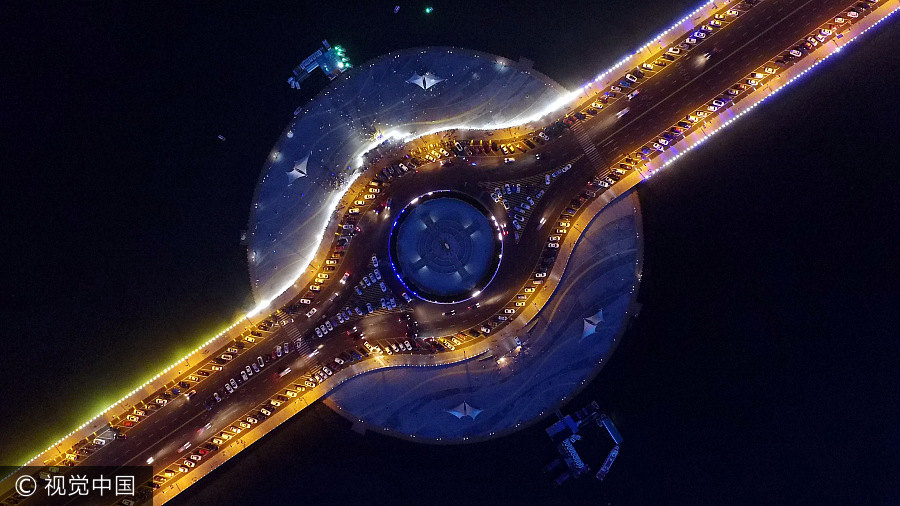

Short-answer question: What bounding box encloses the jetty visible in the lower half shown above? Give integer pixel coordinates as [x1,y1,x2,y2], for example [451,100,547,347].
[545,409,625,480]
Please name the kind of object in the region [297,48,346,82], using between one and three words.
pier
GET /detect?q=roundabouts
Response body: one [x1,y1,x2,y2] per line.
[388,190,504,304]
